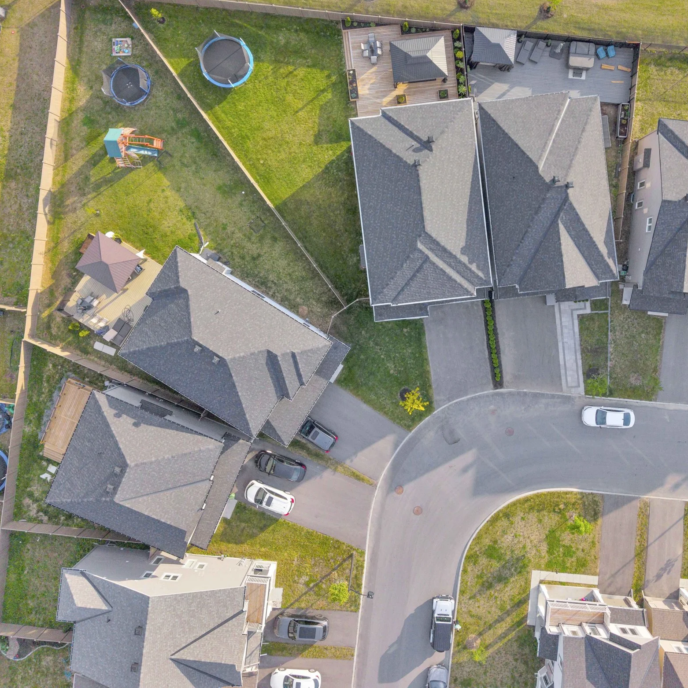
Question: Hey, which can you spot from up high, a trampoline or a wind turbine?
trampoline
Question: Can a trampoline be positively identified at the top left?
Yes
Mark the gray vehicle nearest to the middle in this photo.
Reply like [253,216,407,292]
[297,415,341,456]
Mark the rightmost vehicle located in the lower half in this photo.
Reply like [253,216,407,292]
[580,405,635,430]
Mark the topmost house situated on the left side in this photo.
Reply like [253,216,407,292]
[116,242,352,448]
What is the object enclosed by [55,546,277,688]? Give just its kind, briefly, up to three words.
house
